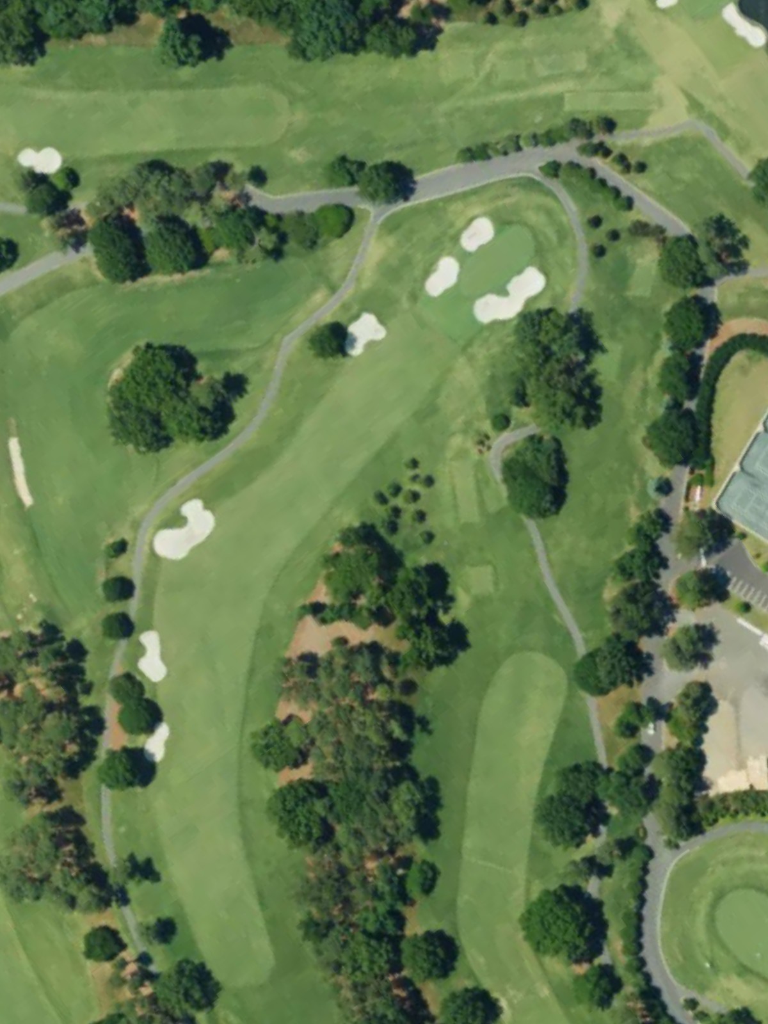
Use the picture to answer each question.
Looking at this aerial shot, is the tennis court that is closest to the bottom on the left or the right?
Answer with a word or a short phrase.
right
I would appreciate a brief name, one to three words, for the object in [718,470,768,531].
tennis court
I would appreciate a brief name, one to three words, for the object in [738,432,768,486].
tennis court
